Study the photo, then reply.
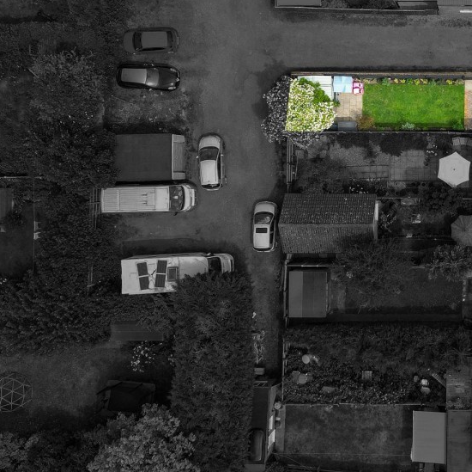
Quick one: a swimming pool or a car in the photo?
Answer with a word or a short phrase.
car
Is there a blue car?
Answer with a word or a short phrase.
No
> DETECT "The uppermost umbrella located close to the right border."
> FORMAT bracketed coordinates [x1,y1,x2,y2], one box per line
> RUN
[438,150,471,186]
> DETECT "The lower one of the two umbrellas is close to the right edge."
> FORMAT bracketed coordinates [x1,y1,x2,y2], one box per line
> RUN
[451,214,472,246]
